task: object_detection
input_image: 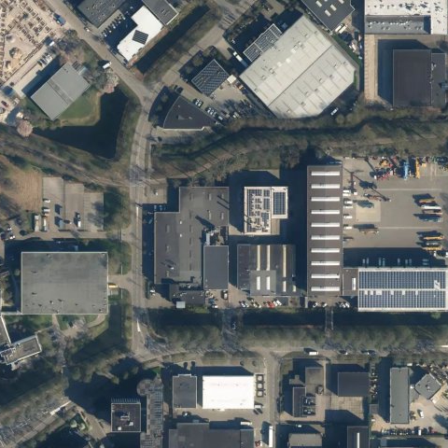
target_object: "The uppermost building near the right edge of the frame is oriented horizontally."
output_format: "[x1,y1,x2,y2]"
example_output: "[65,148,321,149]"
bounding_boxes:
[364,0,447,36]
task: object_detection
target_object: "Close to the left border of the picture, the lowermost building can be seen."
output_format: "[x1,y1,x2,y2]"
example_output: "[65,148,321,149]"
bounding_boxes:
[0,316,42,366]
